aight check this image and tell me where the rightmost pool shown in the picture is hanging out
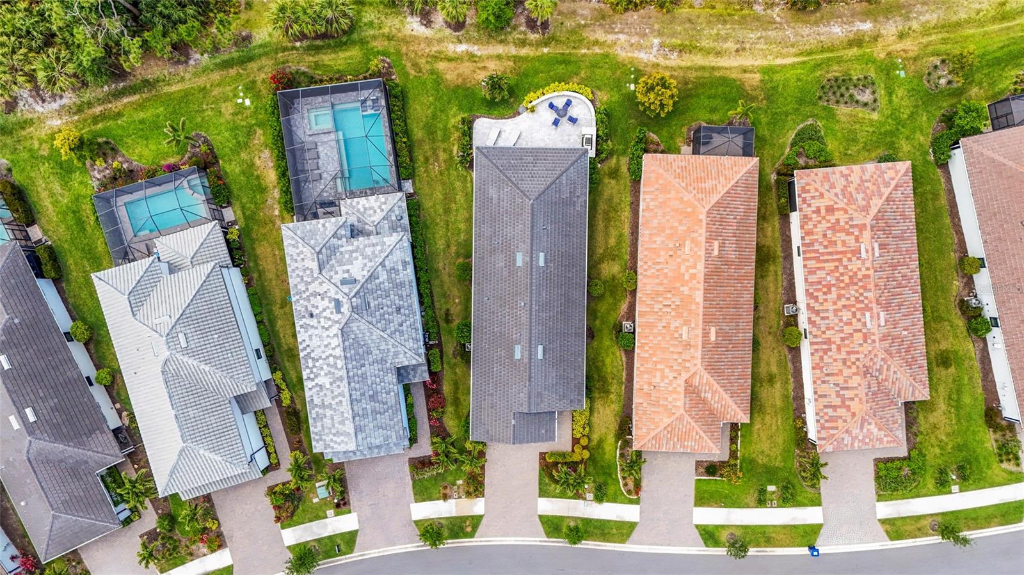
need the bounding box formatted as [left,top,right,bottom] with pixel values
[329,98,393,194]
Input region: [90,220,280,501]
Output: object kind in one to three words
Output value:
house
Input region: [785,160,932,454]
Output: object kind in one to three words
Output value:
house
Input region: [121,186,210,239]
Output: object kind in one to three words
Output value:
swimming pool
